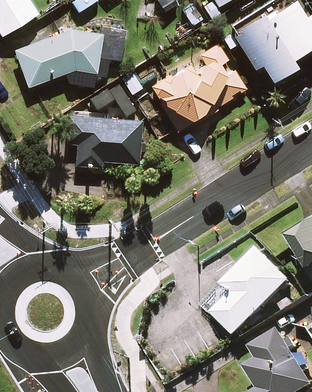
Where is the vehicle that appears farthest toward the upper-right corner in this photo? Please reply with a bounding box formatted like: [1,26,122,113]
[292,86,312,106]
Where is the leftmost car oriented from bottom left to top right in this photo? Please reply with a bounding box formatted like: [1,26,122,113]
[202,200,225,218]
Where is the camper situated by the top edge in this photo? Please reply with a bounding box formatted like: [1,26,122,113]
[182,4,204,27]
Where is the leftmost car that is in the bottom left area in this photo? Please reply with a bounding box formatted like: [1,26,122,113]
[2,320,20,344]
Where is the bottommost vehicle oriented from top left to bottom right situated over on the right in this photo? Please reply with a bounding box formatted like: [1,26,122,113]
[182,132,202,156]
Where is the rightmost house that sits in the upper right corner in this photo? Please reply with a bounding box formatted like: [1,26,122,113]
[236,0,312,84]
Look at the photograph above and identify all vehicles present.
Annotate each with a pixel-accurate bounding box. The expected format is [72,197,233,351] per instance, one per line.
[2,320,20,344]
[182,132,202,156]
[264,134,286,150]
[202,200,225,218]
[292,86,312,106]
[239,149,262,168]
[0,81,8,100]
[276,312,296,328]
[226,203,246,218]
[292,121,312,138]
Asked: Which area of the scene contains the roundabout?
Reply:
bottom left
